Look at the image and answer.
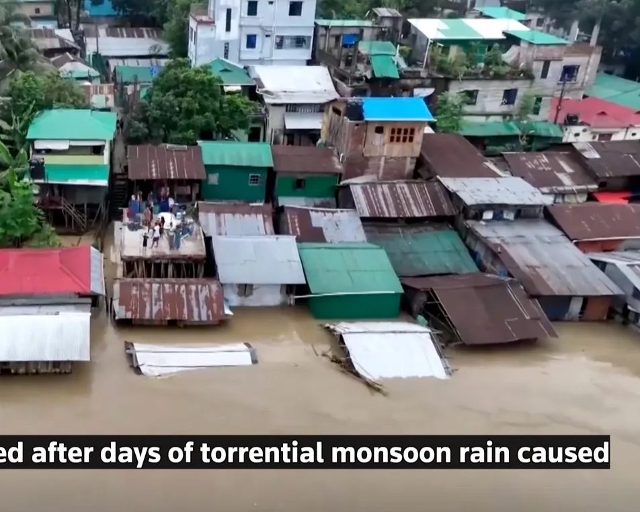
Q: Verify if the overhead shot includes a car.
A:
No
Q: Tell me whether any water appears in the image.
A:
Yes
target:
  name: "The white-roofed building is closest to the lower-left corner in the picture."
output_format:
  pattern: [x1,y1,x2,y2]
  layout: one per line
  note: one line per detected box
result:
[0,303,91,373]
